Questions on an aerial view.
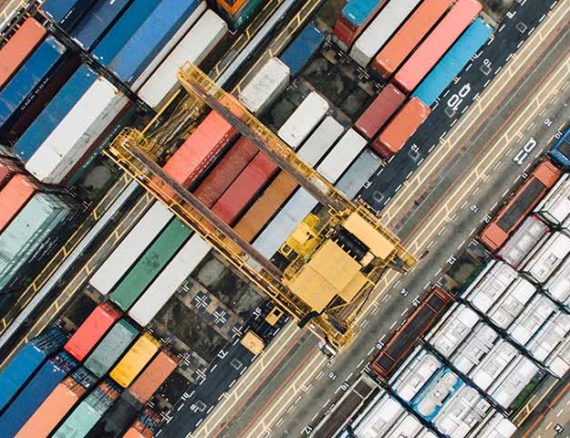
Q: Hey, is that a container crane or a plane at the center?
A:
container crane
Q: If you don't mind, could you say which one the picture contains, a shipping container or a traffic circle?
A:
shipping container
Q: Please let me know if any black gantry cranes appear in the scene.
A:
No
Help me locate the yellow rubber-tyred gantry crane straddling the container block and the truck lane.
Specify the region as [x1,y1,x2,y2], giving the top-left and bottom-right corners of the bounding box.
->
[102,49,425,354]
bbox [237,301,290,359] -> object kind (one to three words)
truck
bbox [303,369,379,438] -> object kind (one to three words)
shipping container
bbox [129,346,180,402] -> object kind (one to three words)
shipping container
